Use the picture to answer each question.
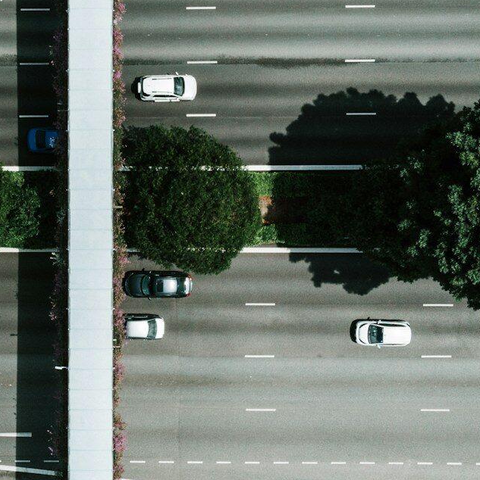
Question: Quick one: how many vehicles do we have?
five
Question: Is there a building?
No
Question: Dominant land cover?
paved ground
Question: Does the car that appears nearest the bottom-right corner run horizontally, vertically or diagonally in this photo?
horizontally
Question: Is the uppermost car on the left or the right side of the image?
left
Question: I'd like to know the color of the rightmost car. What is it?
white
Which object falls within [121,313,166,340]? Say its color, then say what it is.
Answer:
white car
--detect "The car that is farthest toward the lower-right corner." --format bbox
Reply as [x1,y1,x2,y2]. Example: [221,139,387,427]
[354,319,416,349]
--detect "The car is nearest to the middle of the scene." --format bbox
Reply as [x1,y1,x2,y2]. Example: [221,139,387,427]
[124,269,194,300]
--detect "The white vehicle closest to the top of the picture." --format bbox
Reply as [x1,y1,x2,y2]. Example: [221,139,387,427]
[134,71,199,101]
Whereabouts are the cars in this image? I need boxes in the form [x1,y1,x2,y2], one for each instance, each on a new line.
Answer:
[121,313,166,340]
[27,126,60,153]
[134,71,199,101]
[124,269,194,300]
[354,319,416,349]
